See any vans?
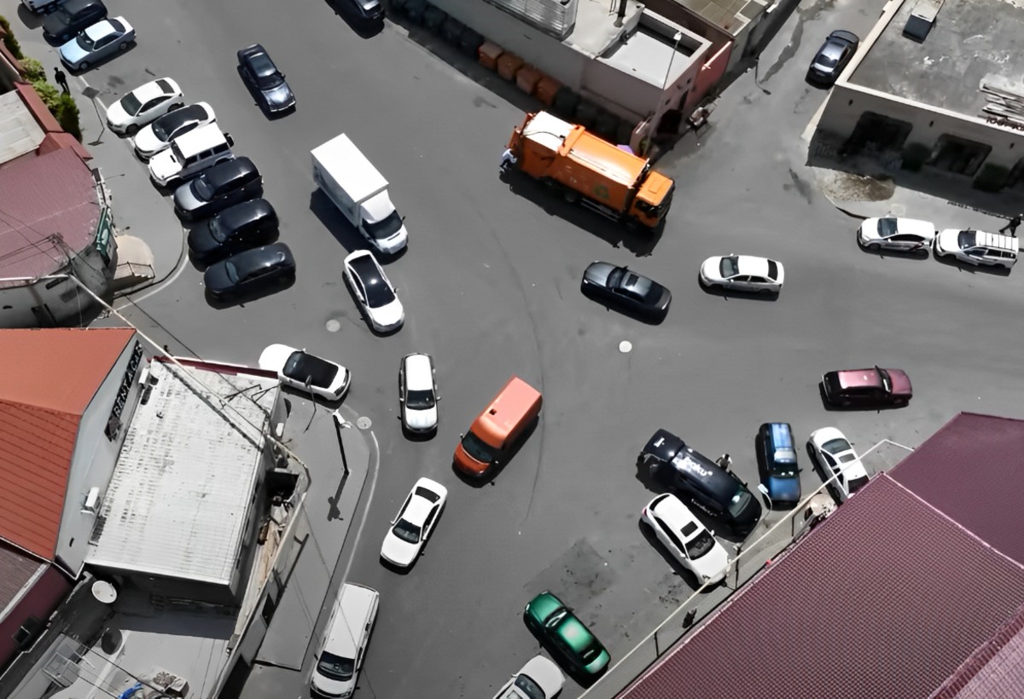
Yes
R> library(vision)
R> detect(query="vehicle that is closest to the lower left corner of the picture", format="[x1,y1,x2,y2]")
[315,589,384,695]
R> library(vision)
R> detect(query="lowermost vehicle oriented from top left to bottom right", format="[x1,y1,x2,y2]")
[527,593,610,679]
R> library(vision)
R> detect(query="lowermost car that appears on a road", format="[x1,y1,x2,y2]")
[494,658,565,699]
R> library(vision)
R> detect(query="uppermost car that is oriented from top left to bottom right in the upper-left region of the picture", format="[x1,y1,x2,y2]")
[236,44,297,116]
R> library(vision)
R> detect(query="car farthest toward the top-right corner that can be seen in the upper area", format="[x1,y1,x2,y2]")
[805,29,856,87]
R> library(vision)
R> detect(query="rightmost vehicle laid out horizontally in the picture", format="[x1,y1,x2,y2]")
[935,226,1017,271]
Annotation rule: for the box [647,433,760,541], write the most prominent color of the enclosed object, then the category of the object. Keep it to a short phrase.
black van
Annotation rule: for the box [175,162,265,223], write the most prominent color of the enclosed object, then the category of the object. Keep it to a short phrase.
black car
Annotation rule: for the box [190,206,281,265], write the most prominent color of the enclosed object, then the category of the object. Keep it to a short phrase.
black car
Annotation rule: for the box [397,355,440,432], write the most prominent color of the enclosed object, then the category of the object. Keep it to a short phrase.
white car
